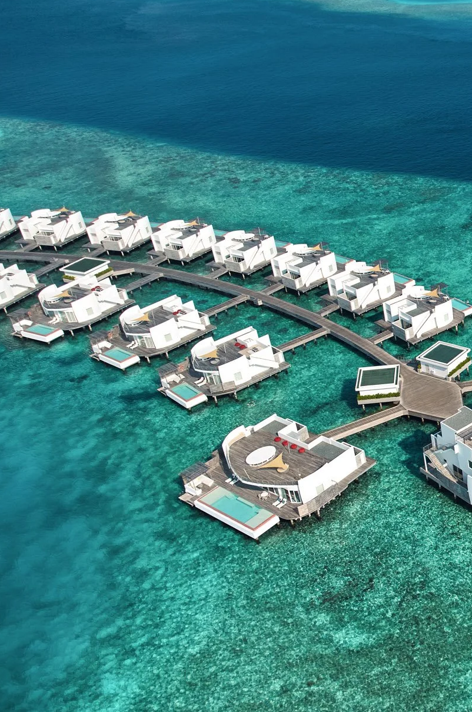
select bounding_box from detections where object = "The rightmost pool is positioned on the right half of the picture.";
[454,298,472,318]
